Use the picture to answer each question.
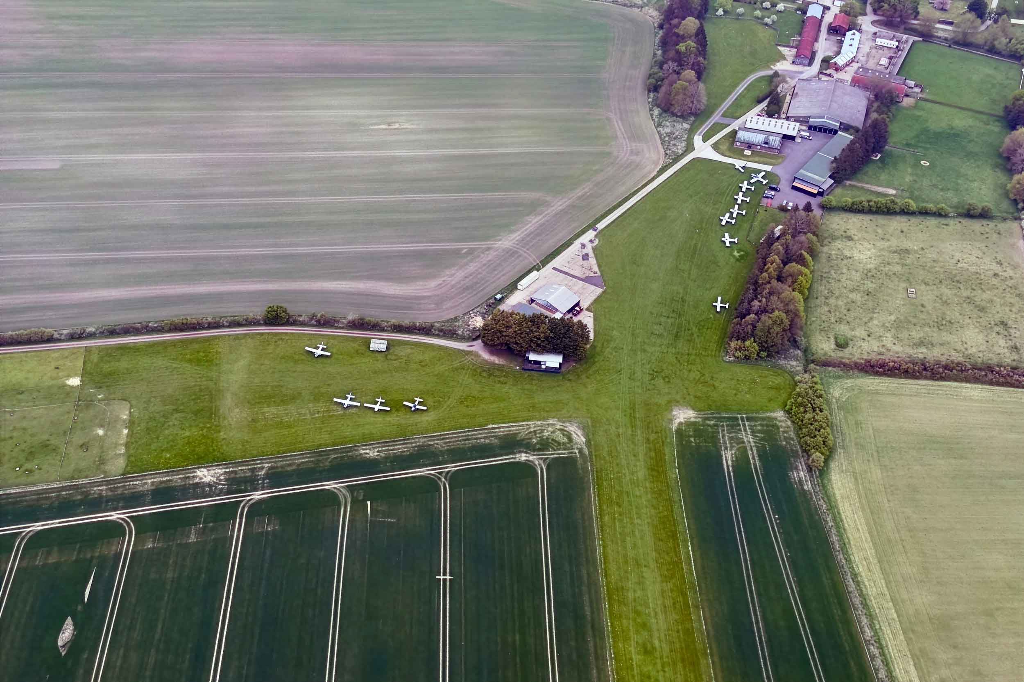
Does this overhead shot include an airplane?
Yes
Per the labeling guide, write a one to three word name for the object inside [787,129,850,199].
hangar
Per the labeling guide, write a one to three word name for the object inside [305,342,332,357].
airplane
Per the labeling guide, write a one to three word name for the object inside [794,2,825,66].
barn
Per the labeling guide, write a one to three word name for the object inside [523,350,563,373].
building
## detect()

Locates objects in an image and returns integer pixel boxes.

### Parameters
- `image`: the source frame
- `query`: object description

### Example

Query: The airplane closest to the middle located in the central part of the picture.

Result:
[403,396,427,410]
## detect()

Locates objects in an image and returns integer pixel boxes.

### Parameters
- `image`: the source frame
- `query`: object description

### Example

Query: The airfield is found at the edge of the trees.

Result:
[2,159,791,682]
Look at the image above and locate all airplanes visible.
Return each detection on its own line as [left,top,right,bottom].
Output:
[751,172,767,182]
[741,181,753,191]
[403,396,427,410]
[713,297,728,312]
[722,233,736,246]
[364,397,390,413]
[333,392,361,409]
[734,163,746,172]
[305,342,332,357]
[735,192,748,204]
[730,205,744,217]
[721,213,734,224]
